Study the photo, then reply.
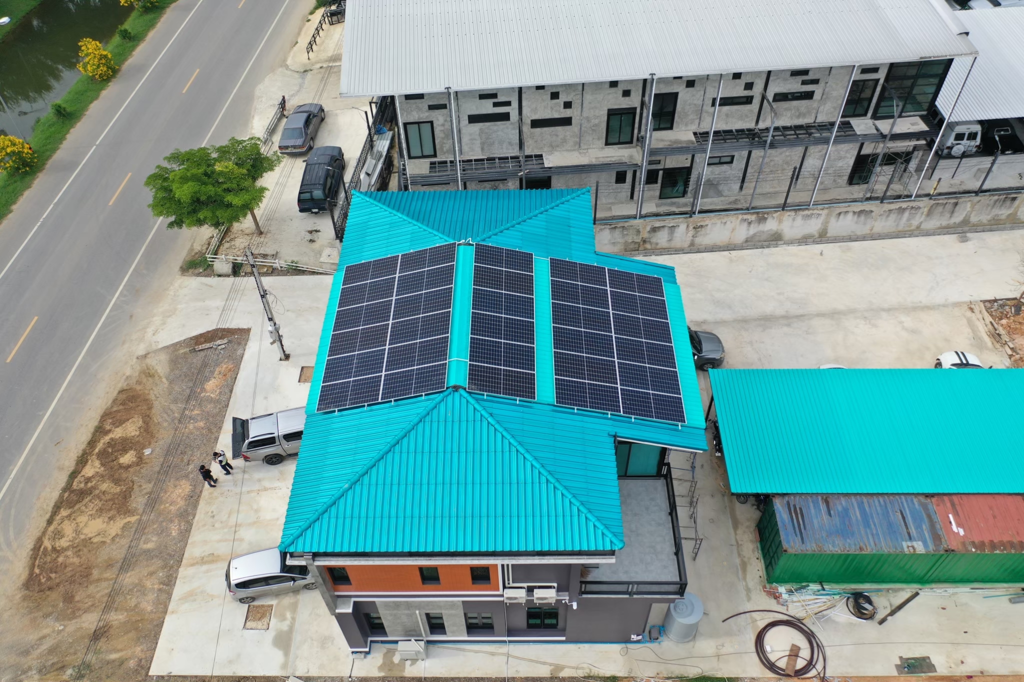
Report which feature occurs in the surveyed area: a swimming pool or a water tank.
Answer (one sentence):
It is a water tank that can be seen here.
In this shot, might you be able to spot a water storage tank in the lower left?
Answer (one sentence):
No, in the lower left there is no water storage tank.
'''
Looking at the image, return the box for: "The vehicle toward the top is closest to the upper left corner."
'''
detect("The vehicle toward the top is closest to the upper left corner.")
[280,101,325,153]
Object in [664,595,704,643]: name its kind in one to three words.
water tank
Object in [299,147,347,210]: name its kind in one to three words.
car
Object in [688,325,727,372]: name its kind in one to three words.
car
